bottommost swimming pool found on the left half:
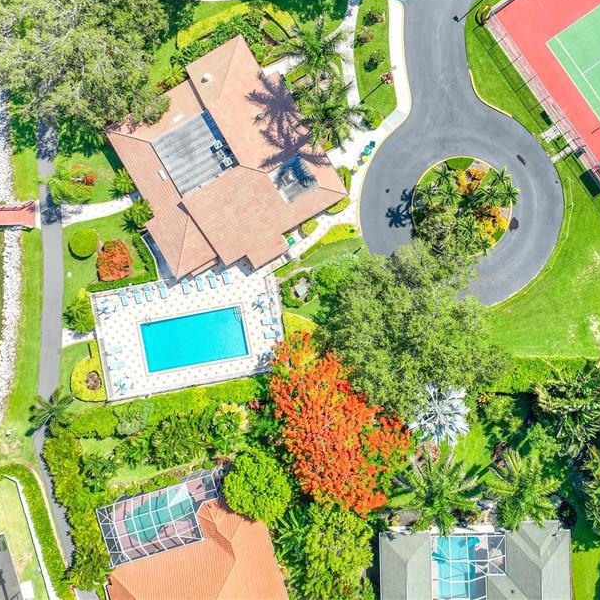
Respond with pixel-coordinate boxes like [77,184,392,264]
[123,484,195,544]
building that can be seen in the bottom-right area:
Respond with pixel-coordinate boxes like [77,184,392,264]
[379,514,571,600]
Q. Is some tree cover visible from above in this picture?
Yes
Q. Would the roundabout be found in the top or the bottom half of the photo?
top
